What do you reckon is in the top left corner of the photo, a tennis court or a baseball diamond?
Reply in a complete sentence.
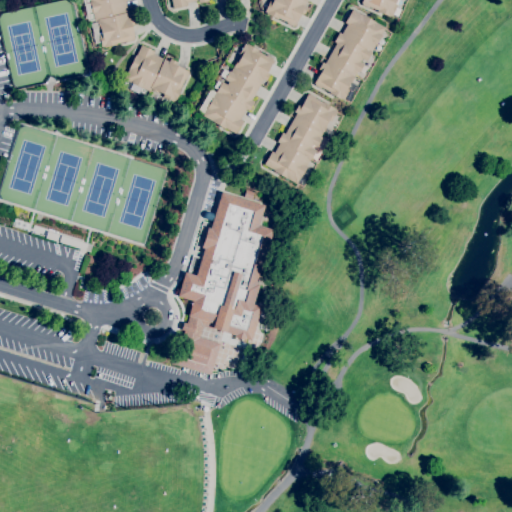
You can see a tennis court in the top left corner of the photo.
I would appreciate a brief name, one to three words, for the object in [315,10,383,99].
house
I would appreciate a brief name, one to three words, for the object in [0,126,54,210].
tennis court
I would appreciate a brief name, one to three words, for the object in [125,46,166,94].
house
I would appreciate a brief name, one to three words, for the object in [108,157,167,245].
tennis court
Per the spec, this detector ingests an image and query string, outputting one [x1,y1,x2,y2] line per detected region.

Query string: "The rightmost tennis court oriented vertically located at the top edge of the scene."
[36,0,84,77]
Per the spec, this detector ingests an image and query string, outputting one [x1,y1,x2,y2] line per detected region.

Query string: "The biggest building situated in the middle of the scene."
[180,192,274,360]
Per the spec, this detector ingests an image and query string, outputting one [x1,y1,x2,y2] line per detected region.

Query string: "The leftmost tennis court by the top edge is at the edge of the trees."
[0,8,49,87]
